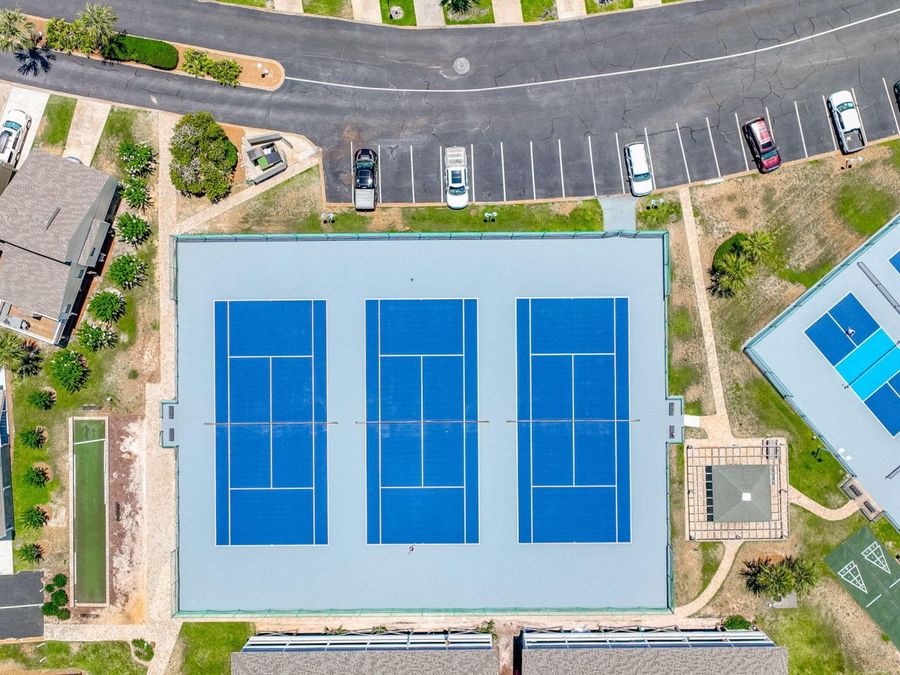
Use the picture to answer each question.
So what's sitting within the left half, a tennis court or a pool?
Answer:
tennis court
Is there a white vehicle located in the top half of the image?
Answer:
Yes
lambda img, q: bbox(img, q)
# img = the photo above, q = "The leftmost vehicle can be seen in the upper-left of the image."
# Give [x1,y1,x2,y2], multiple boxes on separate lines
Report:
[0,112,33,164]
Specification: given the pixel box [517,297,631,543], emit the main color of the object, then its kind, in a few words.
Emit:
blue tennis court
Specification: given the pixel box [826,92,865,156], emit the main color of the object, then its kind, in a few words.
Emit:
white truck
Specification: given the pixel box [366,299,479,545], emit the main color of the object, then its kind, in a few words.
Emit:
blue tennis court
